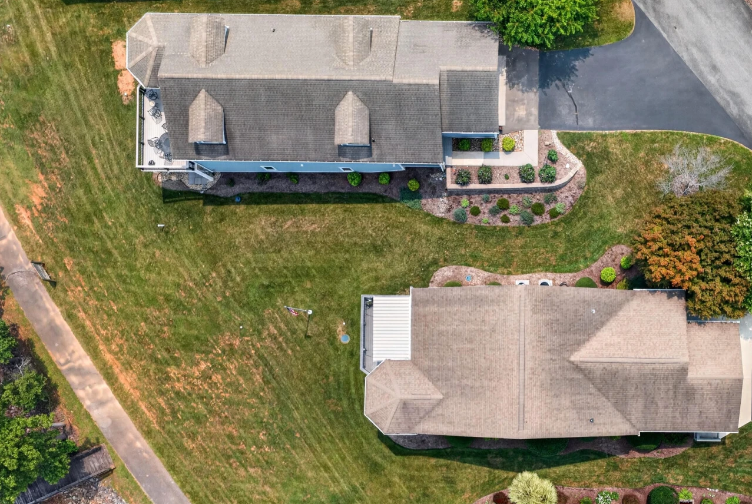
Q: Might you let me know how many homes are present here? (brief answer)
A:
two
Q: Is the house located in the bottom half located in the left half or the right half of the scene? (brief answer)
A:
right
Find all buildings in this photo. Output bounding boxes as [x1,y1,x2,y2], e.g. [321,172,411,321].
[363,284,744,447]
[125,11,502,172]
